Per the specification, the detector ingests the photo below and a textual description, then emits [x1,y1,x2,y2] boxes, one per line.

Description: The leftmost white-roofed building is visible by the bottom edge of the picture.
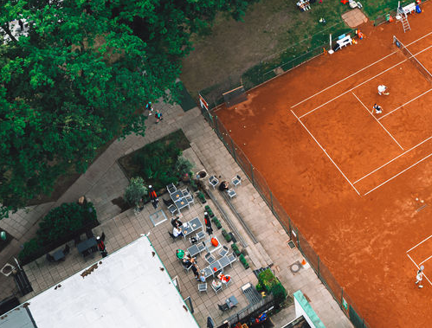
[0,227,202,328]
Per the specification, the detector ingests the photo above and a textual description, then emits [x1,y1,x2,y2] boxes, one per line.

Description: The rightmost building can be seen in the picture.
[275,289,324,328]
